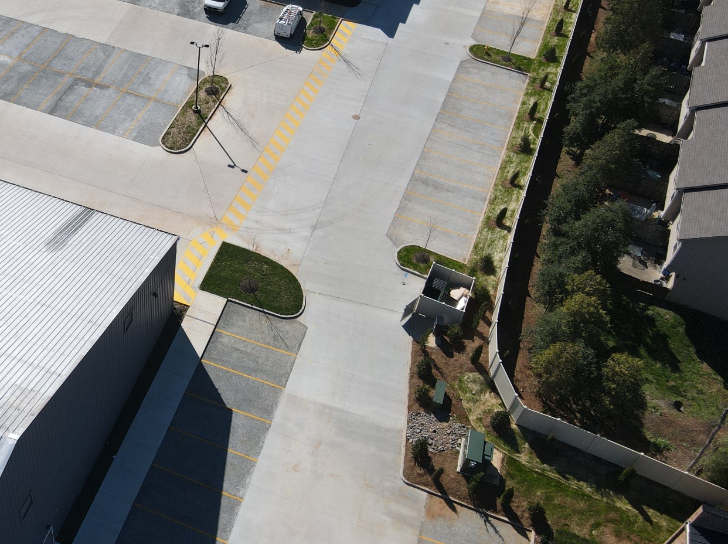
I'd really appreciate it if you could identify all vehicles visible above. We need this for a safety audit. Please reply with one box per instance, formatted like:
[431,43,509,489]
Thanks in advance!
[203,0,229,12]
[273,0,305,34]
